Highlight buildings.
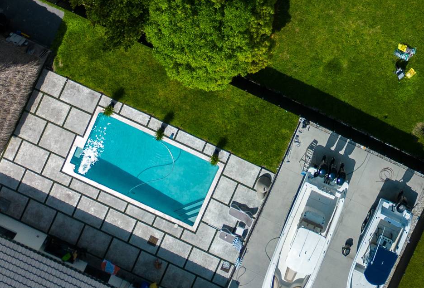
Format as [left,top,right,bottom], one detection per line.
[0,214,164,288]
[0,29,54,172]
